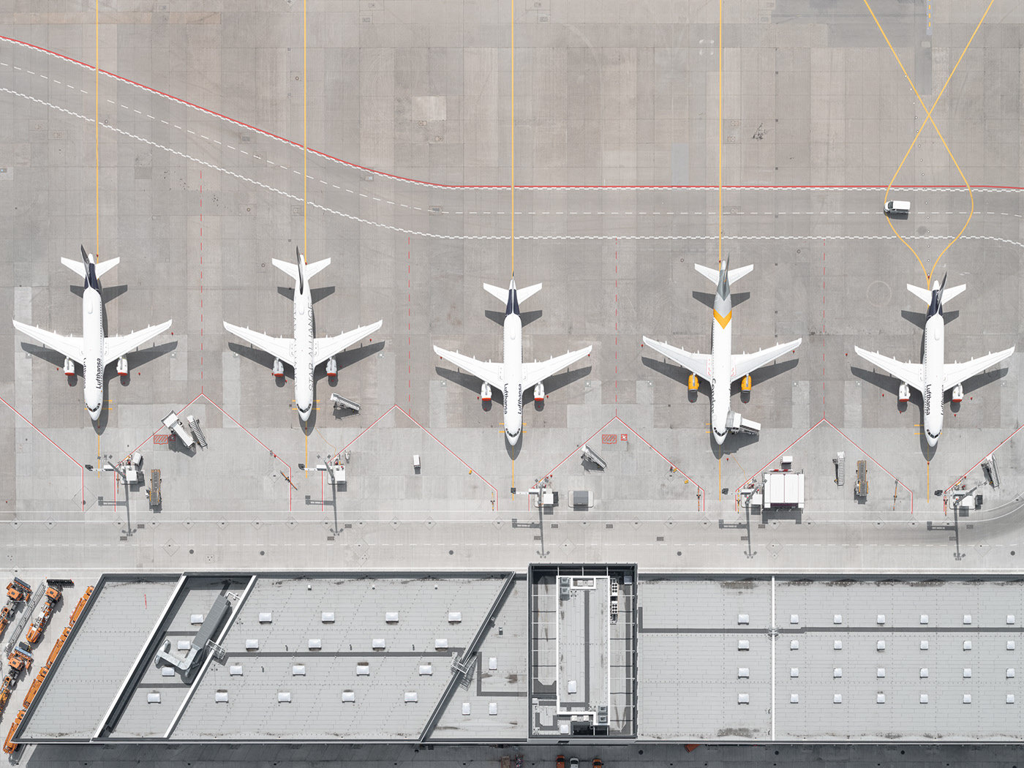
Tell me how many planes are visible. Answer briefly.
5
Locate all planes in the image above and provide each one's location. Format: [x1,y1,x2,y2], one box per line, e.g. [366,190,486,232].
[12,245,173,420]
[433,276,593,446]
[642,252,802,445]
[854,273,1015,446]
[223,247,383,421]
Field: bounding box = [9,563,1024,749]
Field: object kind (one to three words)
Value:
building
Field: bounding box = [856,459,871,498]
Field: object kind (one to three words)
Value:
work vehicle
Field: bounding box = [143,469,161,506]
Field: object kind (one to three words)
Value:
work vehicle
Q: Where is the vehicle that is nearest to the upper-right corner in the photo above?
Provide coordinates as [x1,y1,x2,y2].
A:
[885,202,912,216]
